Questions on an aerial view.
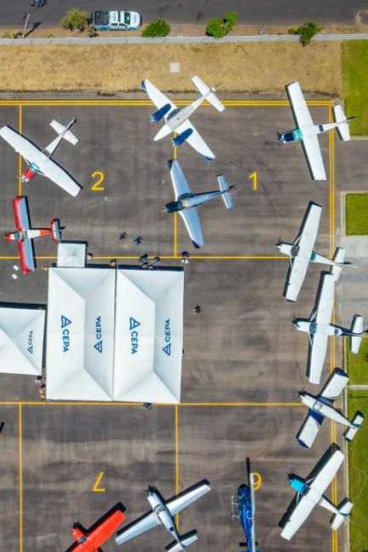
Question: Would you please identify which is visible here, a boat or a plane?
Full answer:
This aerial view contains a plane.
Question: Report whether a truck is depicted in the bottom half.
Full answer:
No, looking in the bottom half, there is no truck.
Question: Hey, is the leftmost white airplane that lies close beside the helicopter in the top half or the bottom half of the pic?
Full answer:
You can find the leftmost white airplane that lies close beside the helicopter in the bottom half.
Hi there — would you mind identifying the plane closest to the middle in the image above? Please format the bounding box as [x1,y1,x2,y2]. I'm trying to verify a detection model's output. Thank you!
[162,162,234,246]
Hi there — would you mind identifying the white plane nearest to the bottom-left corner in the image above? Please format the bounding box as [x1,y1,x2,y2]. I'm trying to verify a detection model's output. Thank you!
[116,485,211,552]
